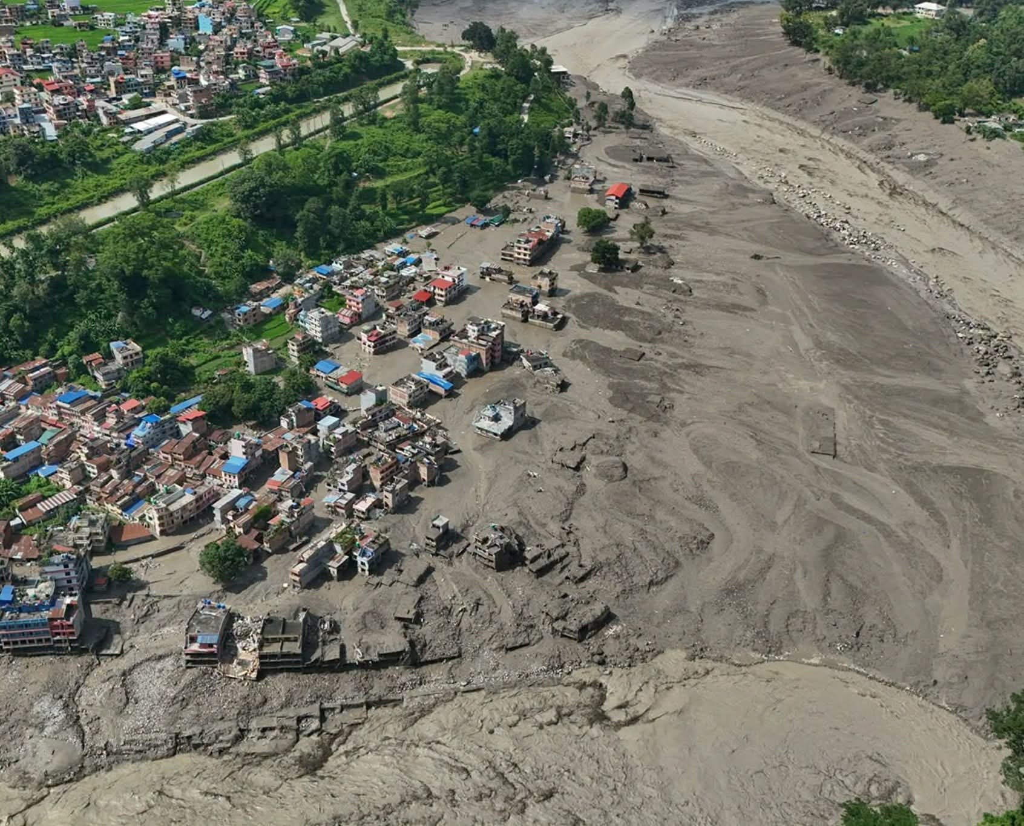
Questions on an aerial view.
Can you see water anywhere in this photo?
Yes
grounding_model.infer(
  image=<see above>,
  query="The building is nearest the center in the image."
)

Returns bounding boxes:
[471,399,525,439]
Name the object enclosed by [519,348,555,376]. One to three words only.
shed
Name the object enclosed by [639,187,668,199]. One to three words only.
house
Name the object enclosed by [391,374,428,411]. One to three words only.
house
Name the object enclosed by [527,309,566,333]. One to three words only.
shed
